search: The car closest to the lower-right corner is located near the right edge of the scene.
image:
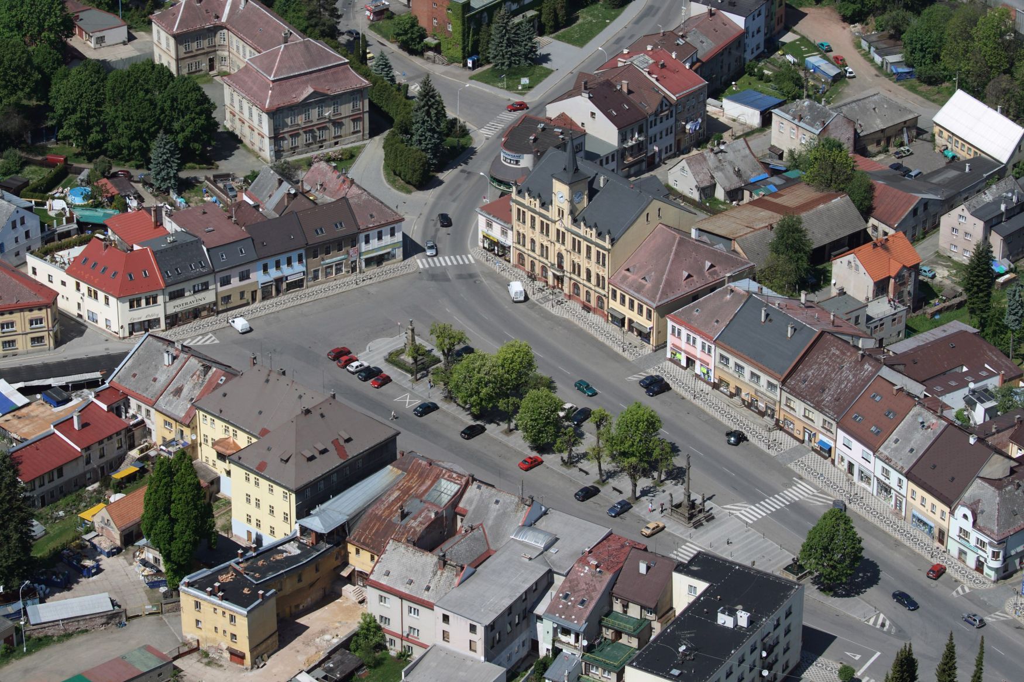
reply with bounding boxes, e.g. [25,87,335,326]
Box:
[959,611,989,628]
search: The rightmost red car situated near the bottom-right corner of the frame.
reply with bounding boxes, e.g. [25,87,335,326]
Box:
[924,563,949,579]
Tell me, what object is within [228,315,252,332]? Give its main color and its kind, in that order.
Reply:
white vehicle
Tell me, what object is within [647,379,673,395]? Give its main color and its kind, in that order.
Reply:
black car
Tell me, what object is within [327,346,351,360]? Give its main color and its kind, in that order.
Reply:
red car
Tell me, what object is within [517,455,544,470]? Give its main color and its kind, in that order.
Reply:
red car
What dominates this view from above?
buildings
